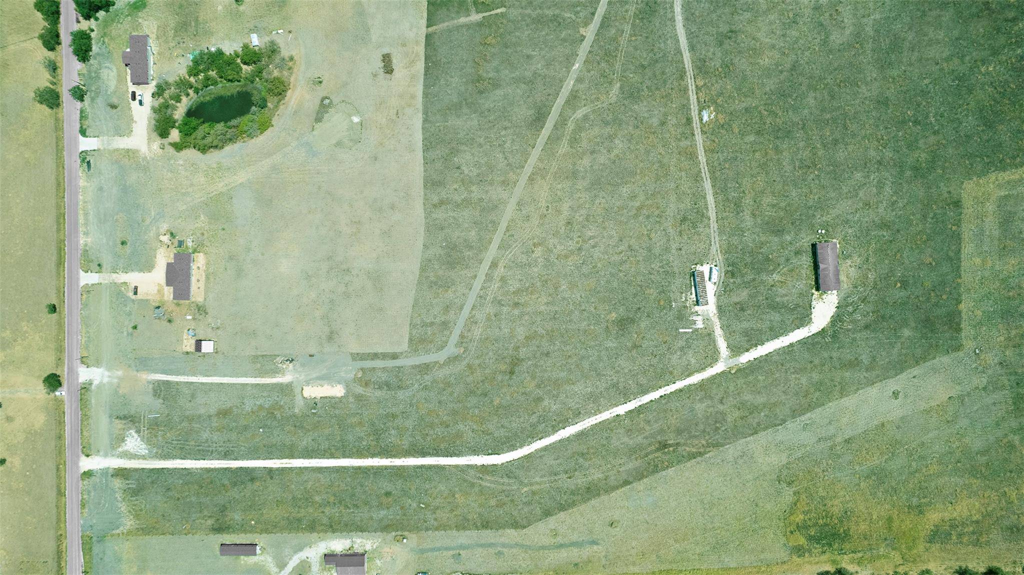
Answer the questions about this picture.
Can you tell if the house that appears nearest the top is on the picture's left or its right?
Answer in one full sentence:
The house that appears nearest the top sits on the left side.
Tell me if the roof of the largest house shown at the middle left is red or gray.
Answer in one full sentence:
From above, the roof of the largest house shown at the middle left appears gray.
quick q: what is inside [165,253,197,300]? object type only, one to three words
house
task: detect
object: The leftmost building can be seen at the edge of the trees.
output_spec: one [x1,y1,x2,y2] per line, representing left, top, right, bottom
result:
[122,34,154,85]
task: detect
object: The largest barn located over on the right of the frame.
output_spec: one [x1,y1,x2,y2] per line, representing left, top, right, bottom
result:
[814,242,840,292]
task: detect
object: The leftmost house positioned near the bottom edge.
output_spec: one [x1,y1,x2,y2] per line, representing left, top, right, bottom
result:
[220,543,260,556]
